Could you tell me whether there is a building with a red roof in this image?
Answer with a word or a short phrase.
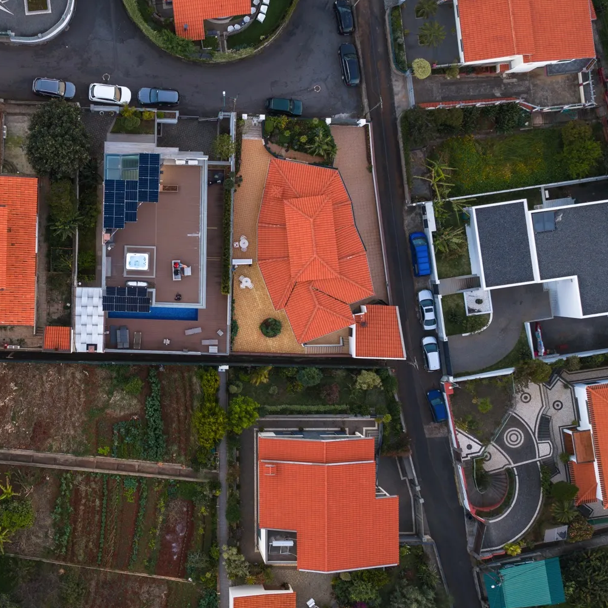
Yes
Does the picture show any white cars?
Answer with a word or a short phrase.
Yes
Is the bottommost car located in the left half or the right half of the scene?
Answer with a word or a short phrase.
right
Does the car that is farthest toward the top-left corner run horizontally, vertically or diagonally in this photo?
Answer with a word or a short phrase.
horizontally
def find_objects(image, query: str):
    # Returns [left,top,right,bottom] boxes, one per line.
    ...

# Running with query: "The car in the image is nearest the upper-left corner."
[32,78,76,100]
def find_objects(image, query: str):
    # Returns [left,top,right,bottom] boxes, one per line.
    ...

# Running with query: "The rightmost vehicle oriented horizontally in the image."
[264,97,303,116]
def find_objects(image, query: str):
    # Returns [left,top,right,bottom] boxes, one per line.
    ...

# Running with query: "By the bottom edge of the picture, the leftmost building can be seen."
[226,576,296,608]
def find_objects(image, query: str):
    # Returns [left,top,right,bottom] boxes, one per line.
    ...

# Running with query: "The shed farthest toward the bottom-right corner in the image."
[478,551,565,608]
